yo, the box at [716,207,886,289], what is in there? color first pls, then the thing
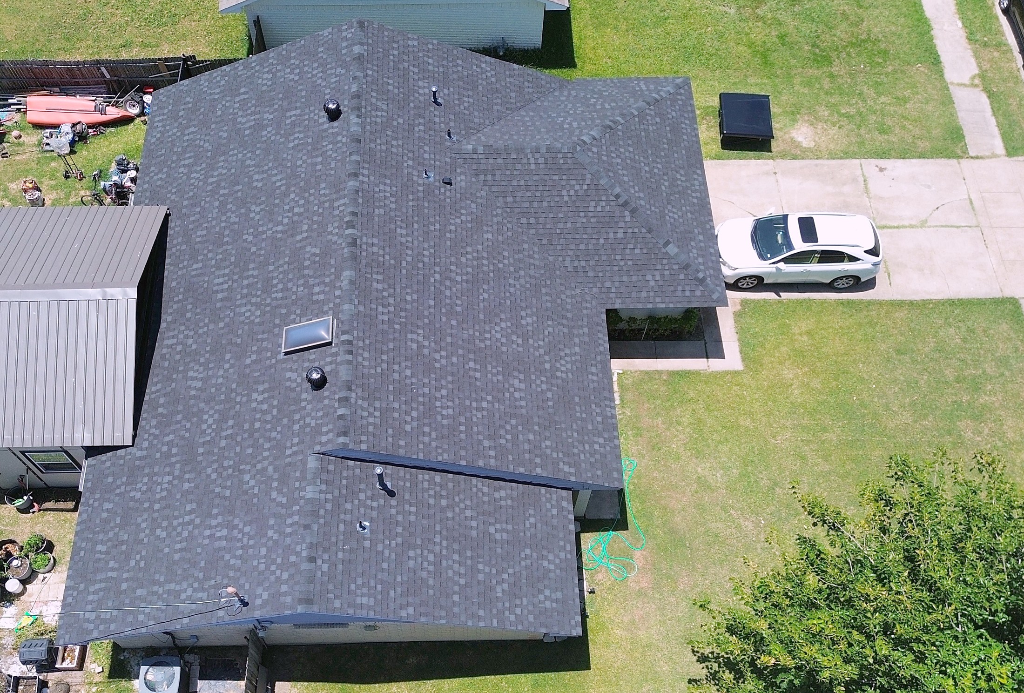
white car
